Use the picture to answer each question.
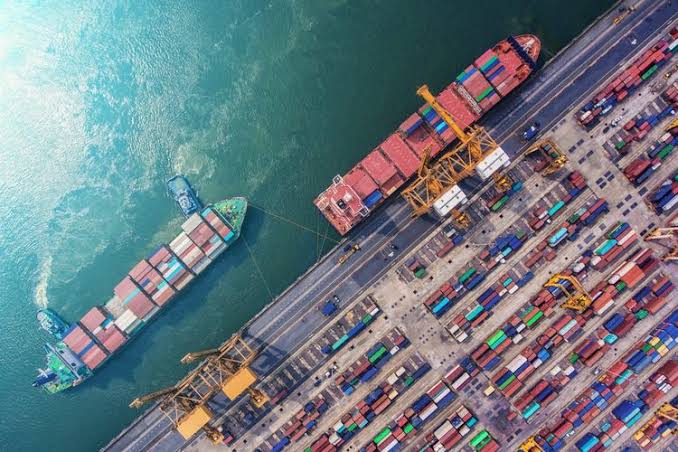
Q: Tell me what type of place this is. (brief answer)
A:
port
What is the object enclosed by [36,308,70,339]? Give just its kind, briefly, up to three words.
boat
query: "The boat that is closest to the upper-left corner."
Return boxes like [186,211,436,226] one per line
[169,175,199,214]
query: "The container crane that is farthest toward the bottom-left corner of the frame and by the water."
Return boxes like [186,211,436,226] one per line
[130,359,229,445]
